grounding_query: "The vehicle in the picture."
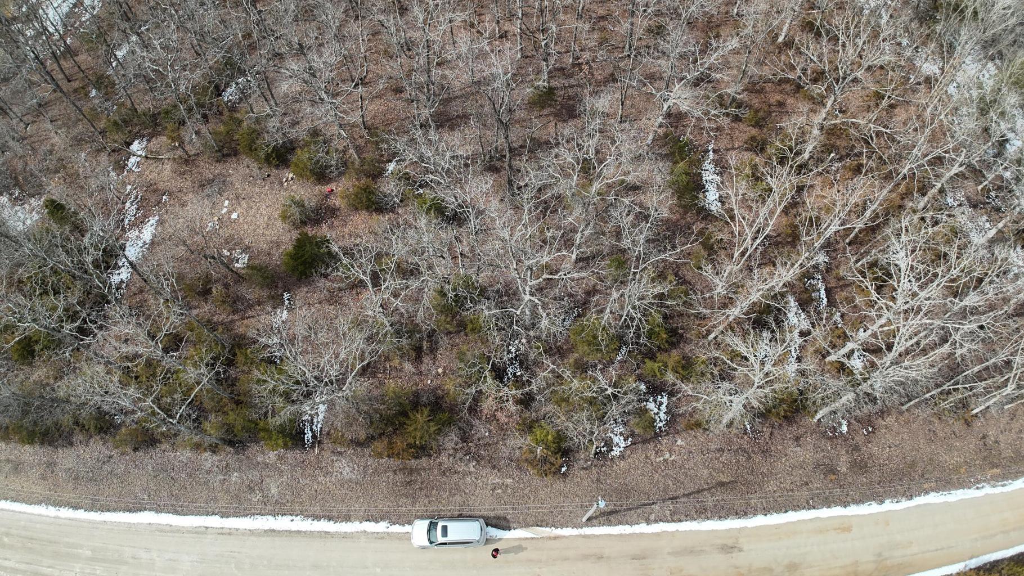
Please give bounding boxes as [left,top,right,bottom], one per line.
[411,514,486,552]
